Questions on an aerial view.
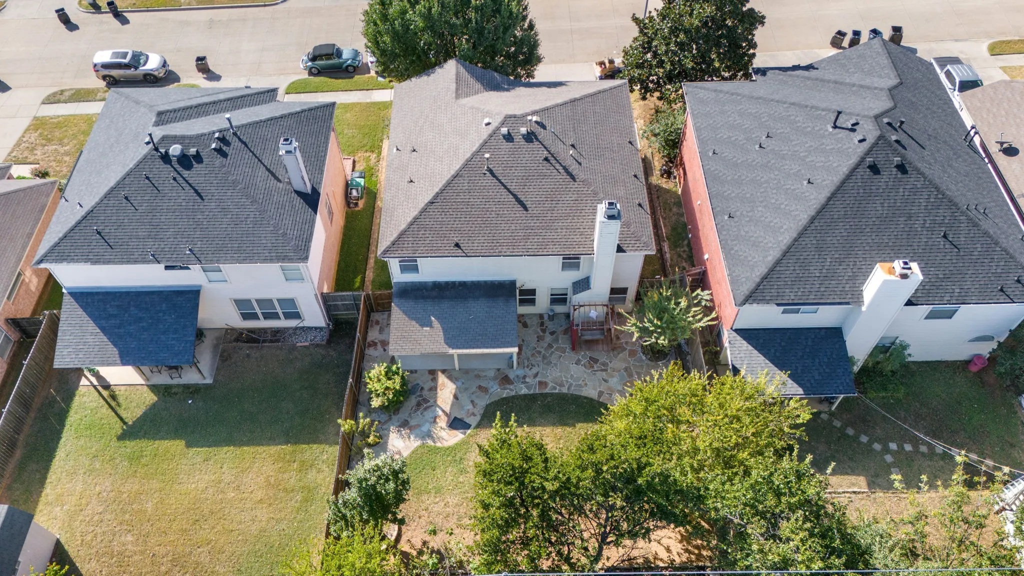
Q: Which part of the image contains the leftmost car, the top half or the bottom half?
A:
top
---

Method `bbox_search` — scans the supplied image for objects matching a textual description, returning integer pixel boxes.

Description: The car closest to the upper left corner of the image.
[88,46,169,84]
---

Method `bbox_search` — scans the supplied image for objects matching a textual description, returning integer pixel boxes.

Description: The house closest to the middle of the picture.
[376,57,656,371]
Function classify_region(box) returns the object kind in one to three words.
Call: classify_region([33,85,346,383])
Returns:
house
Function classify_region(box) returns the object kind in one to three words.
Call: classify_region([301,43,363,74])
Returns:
car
